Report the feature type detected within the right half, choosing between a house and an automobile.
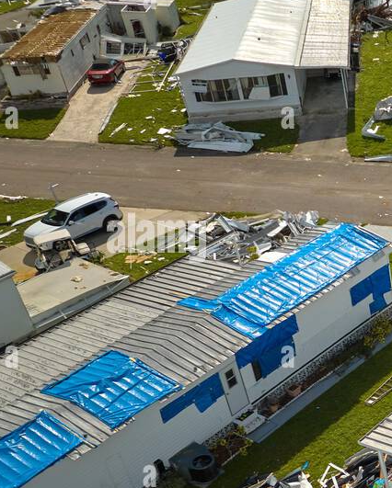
house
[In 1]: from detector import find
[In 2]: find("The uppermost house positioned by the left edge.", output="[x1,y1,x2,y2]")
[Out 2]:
[0,0,155,103]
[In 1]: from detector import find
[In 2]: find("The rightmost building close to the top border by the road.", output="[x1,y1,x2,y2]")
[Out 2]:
[174,0,352,119]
